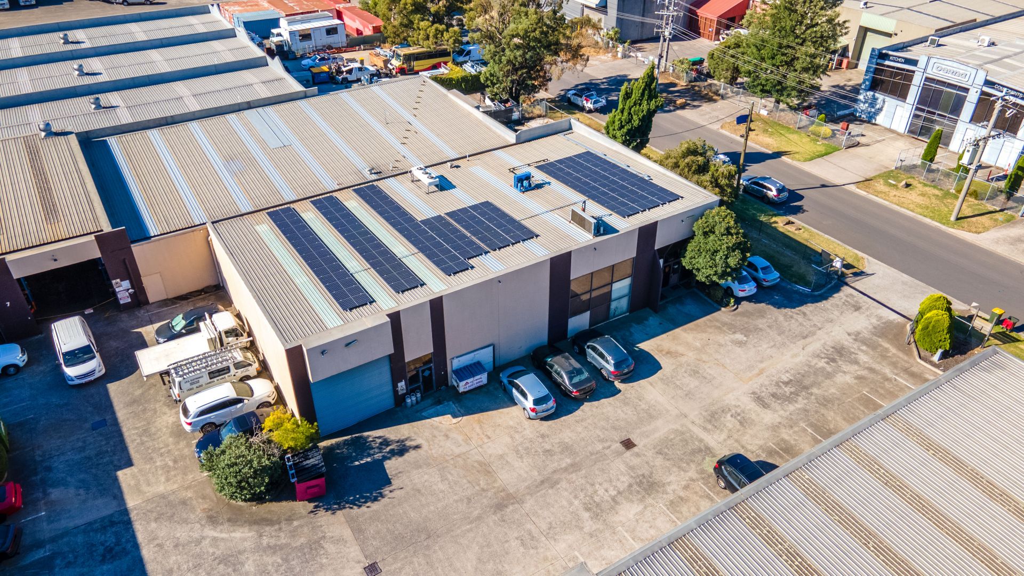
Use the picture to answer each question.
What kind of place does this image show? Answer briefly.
industrial area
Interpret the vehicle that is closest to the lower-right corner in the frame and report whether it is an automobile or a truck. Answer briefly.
automobile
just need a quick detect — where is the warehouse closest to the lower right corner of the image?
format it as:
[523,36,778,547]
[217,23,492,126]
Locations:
[614,341,1024,576]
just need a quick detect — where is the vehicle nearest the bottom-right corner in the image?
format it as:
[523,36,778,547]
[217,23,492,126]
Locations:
[710,452,770,500]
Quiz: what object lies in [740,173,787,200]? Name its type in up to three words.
car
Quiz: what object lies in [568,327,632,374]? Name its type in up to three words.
car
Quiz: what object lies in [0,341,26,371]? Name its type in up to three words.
truck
